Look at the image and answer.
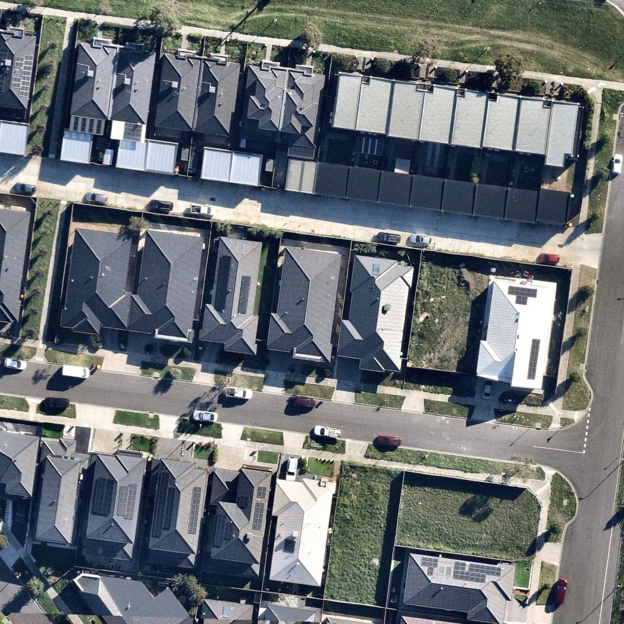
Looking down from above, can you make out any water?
No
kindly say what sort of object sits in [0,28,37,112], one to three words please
house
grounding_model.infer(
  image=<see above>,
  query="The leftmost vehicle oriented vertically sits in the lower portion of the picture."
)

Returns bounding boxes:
[285,457,297,480]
